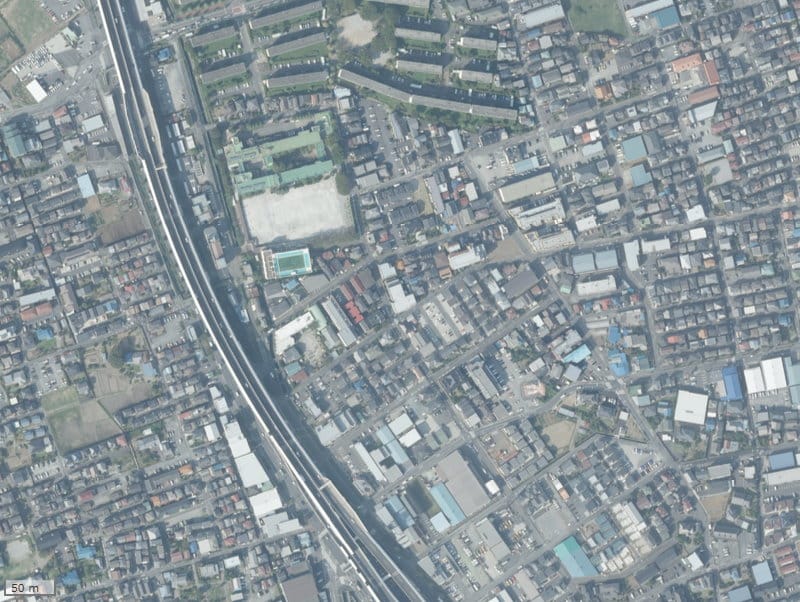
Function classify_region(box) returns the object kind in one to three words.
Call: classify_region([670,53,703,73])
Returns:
building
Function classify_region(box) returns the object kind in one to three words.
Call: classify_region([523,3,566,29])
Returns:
building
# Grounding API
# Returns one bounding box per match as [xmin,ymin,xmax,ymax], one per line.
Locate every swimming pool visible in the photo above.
[273,249,312,278]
